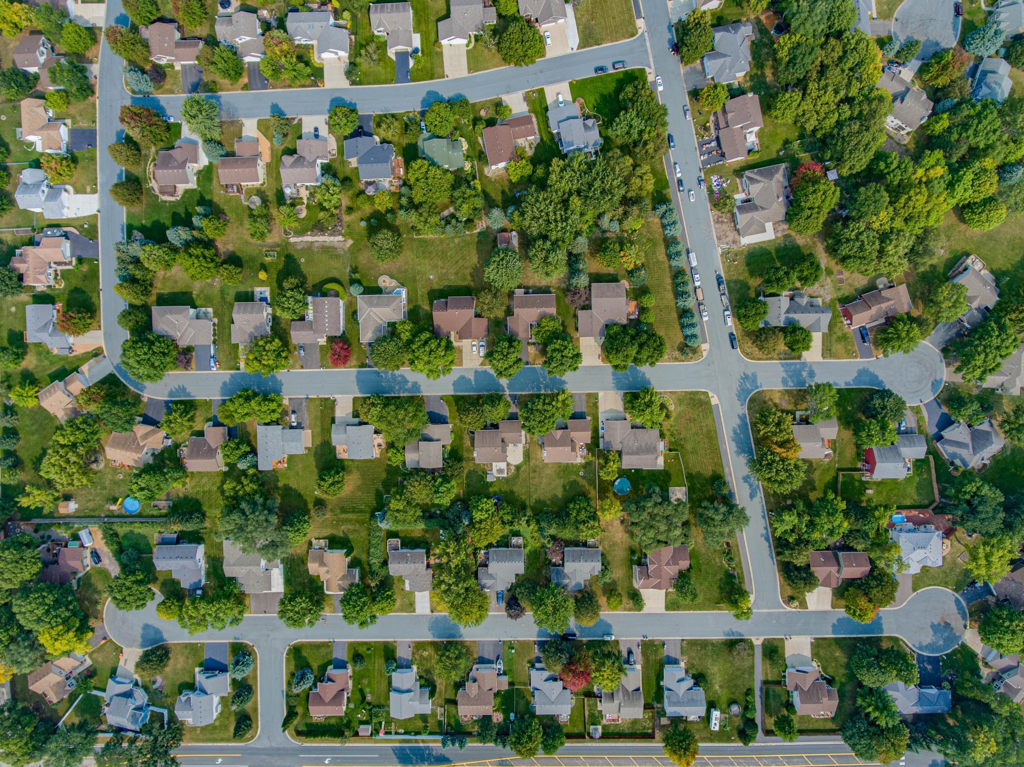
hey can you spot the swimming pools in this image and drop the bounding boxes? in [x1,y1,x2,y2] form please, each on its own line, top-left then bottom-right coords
[123,495,142,514]
[613,477,631,495]
[891,513,907,523]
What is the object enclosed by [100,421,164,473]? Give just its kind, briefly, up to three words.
house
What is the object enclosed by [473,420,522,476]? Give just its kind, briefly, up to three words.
house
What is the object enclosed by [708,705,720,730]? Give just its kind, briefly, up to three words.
vehicle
